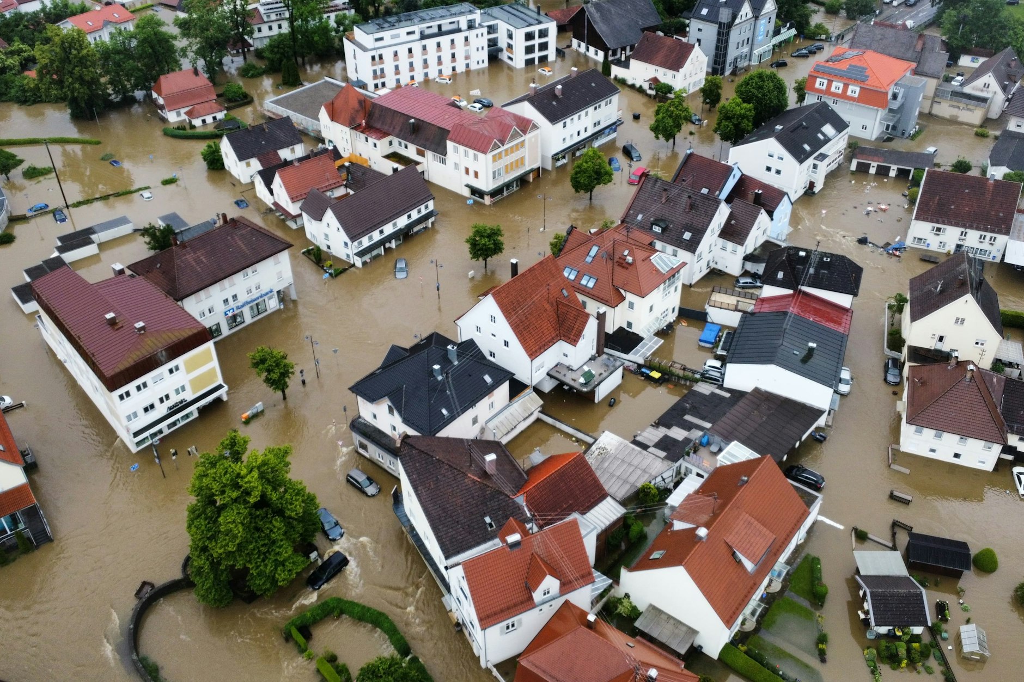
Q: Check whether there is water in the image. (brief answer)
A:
Yes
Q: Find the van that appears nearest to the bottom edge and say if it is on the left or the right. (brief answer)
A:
left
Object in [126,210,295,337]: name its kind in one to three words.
building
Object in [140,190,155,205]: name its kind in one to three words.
car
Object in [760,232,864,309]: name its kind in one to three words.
house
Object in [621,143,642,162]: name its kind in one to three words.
vehicle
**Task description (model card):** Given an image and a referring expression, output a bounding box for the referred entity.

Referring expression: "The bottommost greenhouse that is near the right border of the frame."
[956,624,991,664]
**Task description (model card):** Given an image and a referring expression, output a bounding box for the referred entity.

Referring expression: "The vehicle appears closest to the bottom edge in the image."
[306,547,350,593]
